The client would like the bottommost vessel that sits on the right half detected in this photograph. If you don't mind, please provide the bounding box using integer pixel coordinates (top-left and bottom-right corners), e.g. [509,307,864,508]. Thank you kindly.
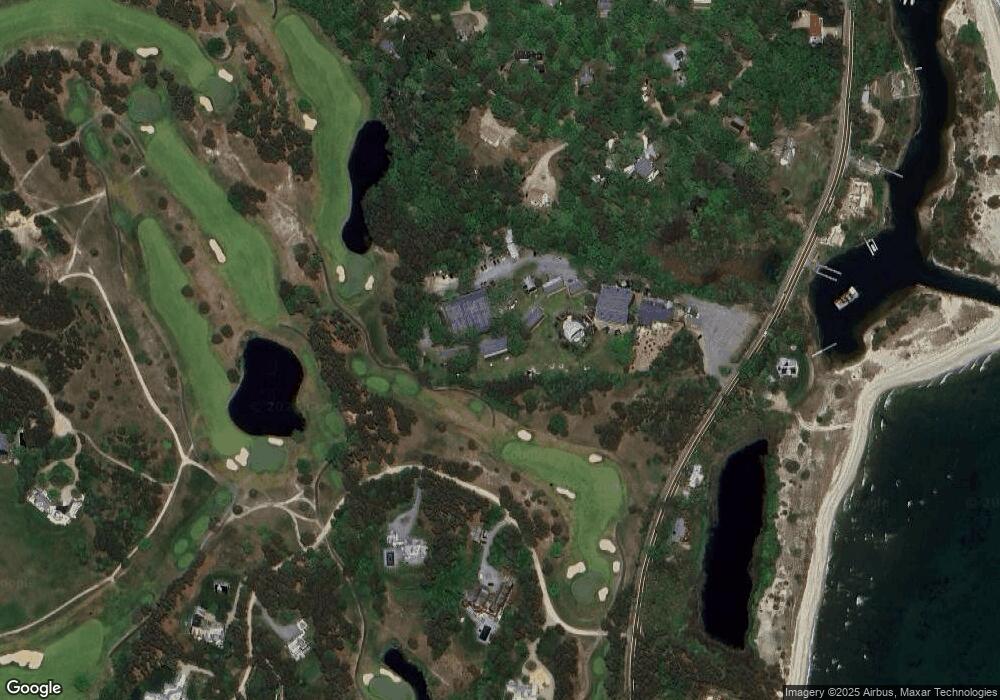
[835,287,860,309]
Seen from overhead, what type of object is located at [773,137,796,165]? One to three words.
house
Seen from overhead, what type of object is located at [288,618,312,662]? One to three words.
house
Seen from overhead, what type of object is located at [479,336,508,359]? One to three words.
building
